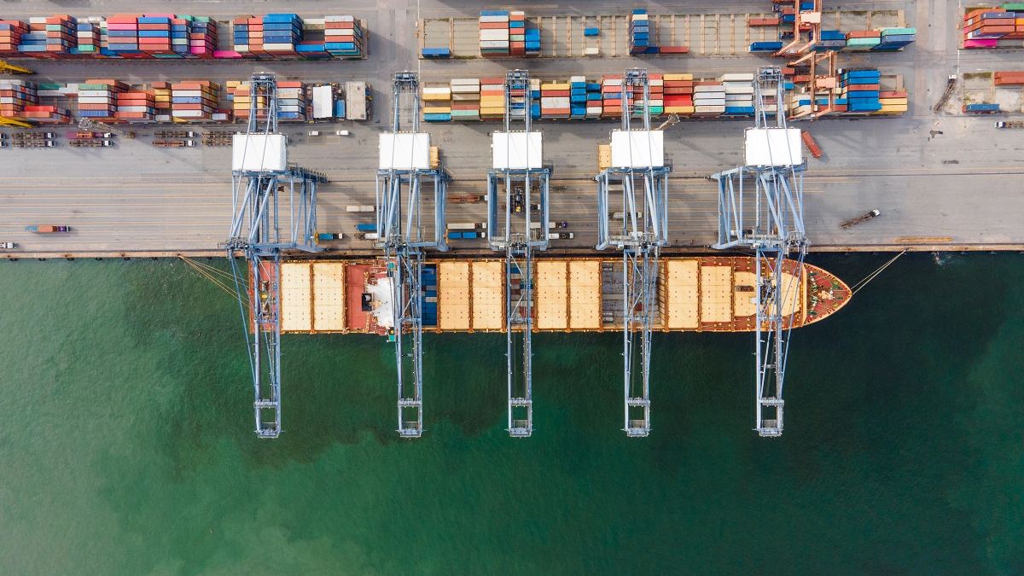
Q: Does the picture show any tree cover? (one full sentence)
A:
No, tree cover can't be seen anywhere here.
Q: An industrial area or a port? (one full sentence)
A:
What you see here is a port.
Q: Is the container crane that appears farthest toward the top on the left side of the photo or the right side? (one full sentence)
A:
It is on the right.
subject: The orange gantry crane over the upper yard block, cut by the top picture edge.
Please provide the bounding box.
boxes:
[766,0,821,58]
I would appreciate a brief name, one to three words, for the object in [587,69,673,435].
container crane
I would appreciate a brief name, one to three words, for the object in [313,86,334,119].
shed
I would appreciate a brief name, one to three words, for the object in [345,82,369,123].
building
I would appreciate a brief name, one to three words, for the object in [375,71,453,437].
container crane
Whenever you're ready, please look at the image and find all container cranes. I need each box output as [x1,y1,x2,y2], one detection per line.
[782,49,838,120]
[706,68,807,434]
[375,71,453,437]
[587,69,673,435]
[483,70,556,436]
[766,0,821,58]
[229,72,326,438]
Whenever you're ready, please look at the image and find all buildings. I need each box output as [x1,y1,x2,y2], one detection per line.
[345,82,369,123]
[313,86,334,119]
